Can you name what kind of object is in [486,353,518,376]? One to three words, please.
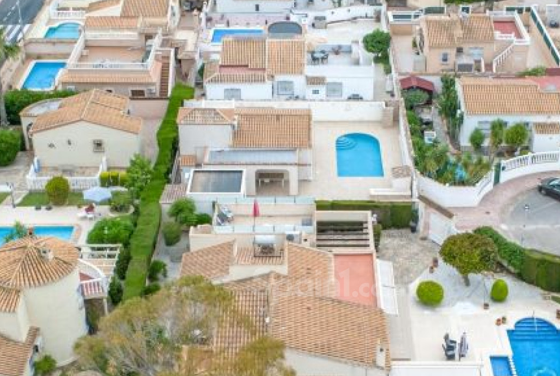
swimming pool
